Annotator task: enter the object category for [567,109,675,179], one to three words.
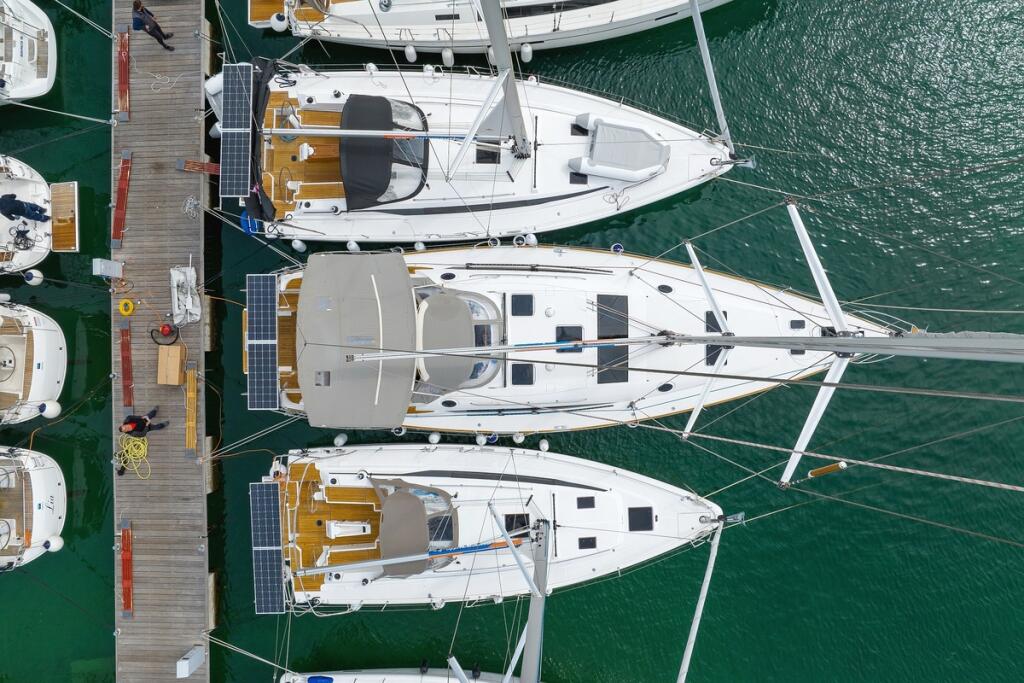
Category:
boat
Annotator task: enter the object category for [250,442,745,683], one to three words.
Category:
boat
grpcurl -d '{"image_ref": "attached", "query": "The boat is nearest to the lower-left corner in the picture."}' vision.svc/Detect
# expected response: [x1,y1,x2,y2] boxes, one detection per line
[0,448,68,570]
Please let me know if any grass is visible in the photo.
No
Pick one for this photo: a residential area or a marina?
marina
